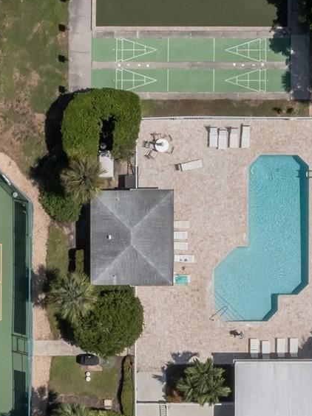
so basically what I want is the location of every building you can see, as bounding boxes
[235,361,312,416]
[90,188,174,287]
